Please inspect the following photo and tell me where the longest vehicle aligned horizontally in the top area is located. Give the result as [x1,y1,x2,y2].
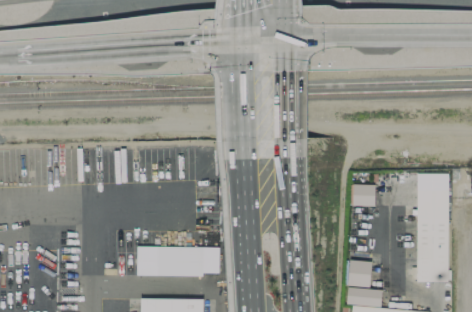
[274,31,318,48]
